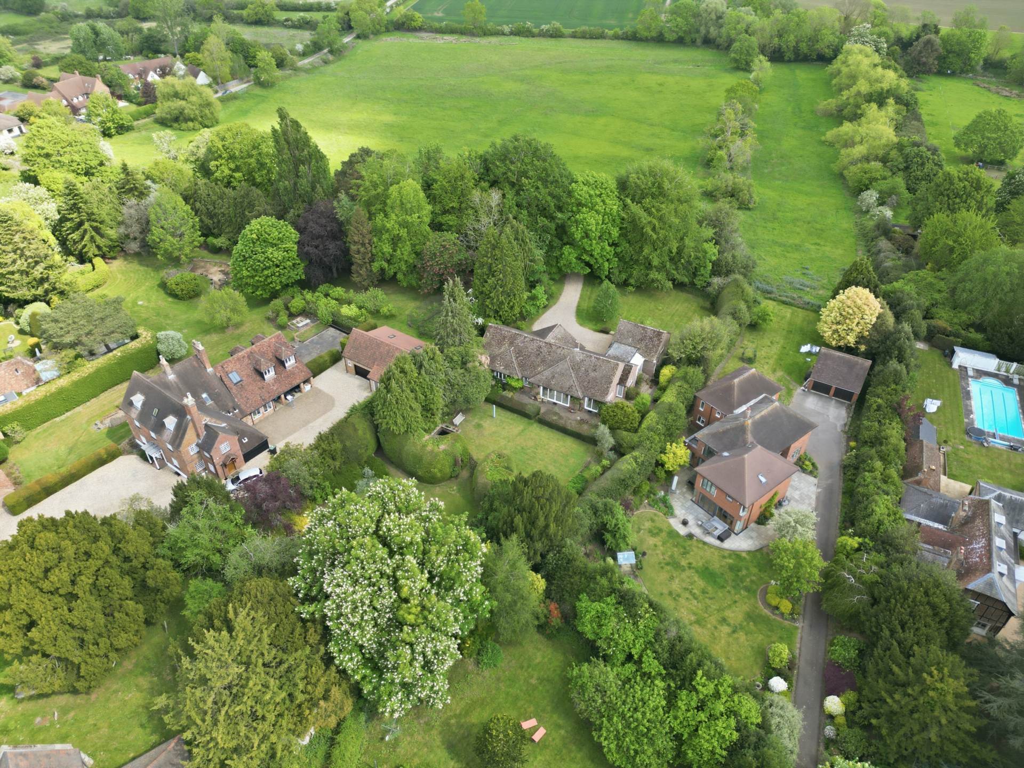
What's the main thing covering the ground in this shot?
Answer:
trees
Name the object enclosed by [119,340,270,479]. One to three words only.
house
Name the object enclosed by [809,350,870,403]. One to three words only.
building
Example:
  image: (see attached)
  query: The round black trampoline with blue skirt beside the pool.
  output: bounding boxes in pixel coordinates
[966,421,990,438]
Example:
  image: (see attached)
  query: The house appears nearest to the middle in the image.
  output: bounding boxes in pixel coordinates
[493,318,638,411]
